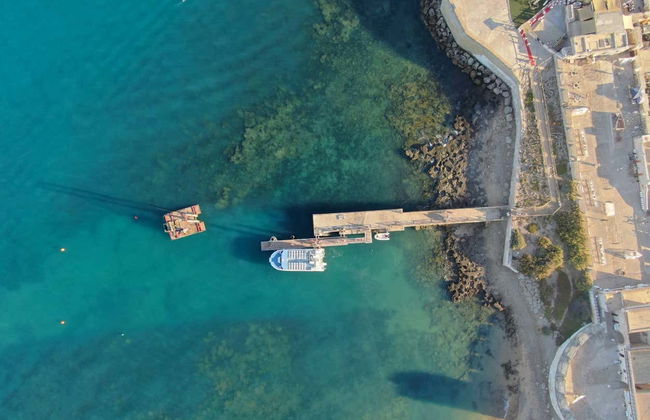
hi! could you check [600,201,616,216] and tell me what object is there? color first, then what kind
white umbrella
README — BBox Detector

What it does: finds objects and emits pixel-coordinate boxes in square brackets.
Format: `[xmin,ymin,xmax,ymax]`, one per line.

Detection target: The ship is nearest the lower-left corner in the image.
[161,204,207,240]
